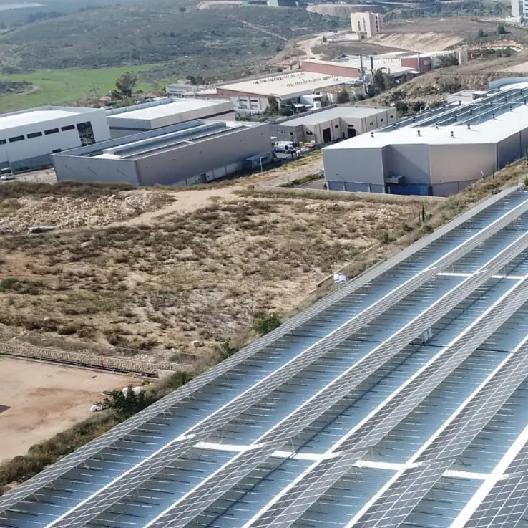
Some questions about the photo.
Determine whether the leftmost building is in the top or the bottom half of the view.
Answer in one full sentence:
The leftmost building is in the top half of the image.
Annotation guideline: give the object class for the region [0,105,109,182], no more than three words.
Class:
building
